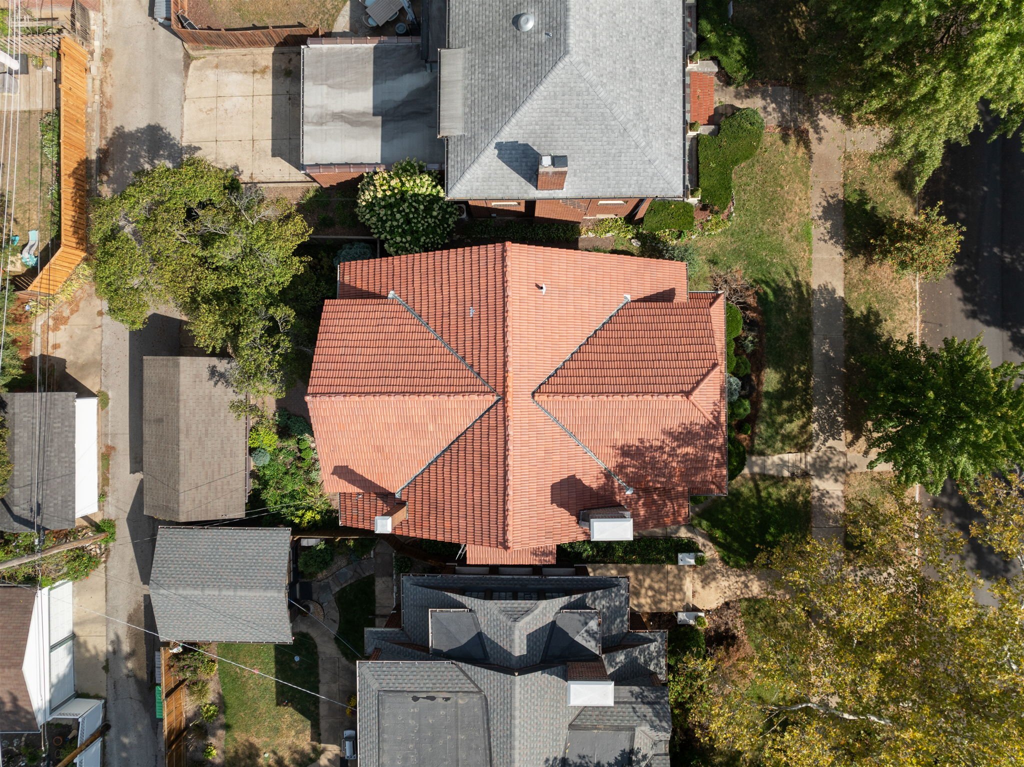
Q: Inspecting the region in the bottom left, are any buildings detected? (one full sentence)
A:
Yes, there is a building in the bottom left.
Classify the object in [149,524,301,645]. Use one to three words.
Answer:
building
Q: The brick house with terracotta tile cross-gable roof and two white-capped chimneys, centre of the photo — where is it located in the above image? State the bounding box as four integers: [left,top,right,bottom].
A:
[303,240,727,565]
